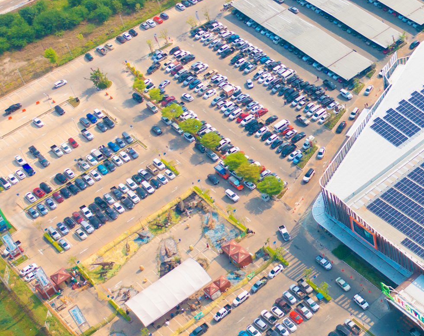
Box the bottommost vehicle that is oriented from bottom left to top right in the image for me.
[188,322,210,336]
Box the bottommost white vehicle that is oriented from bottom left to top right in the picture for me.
[212,304,234,322]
